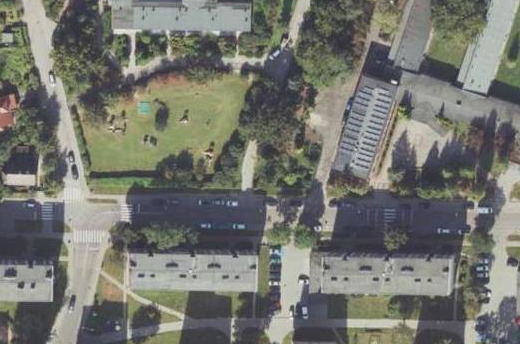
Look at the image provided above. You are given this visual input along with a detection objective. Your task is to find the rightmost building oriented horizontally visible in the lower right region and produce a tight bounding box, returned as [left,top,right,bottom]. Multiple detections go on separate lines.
[321,248,454,296]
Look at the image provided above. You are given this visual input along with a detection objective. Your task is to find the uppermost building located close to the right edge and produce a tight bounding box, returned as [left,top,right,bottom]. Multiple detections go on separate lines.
[398,71,520,162]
